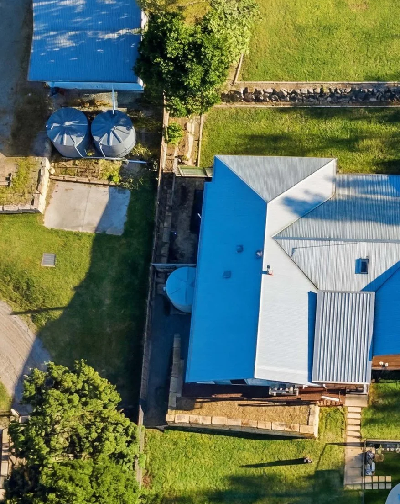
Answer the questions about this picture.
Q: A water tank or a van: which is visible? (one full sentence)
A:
Visible in the photo is a water tank.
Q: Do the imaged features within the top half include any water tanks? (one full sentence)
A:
Yes, a water tank is visible within the top half.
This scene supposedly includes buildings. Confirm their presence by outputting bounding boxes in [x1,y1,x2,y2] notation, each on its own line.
[182,154,400,403]
[27,0,164,115]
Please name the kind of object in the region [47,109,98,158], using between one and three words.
water tank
